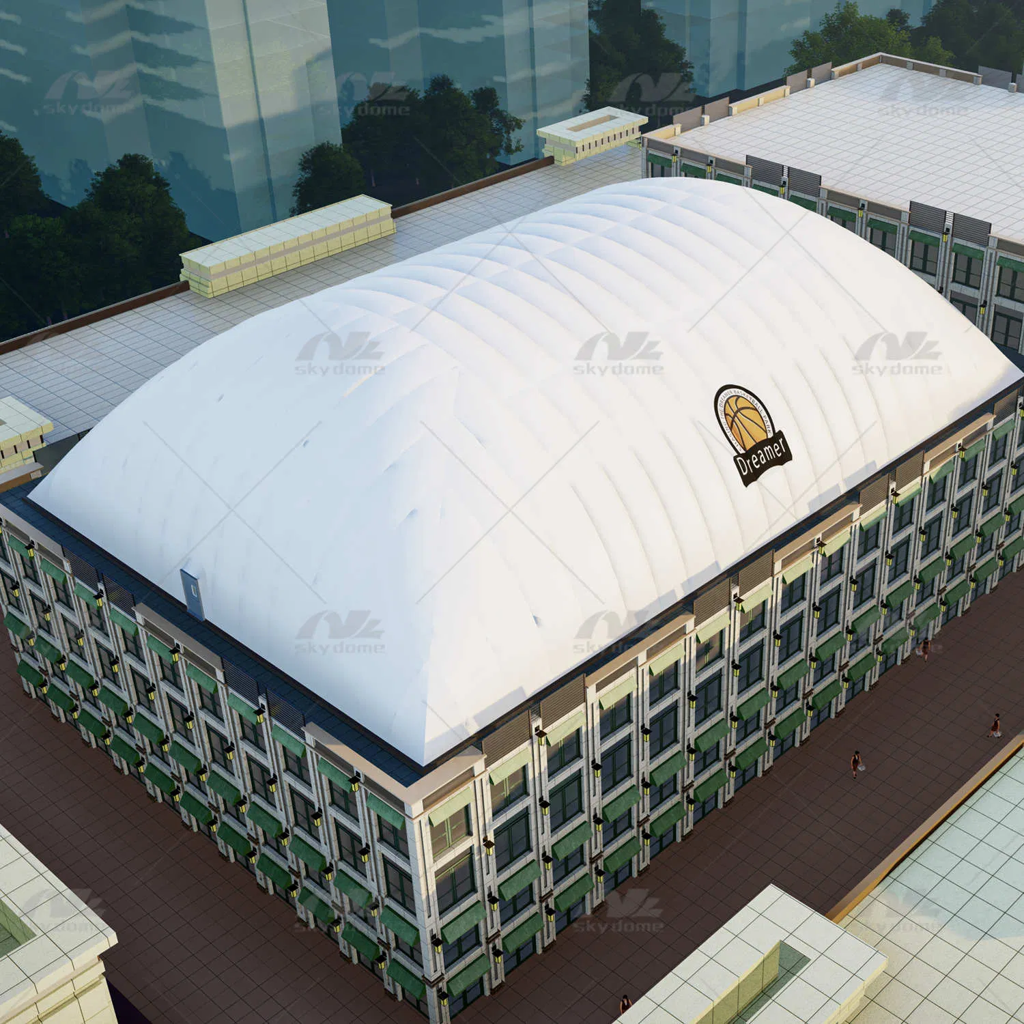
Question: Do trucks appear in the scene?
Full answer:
No, the photo shows no truck.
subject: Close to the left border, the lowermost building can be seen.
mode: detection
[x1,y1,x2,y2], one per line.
[0,825,120,1024]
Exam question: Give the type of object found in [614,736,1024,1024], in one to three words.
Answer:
building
